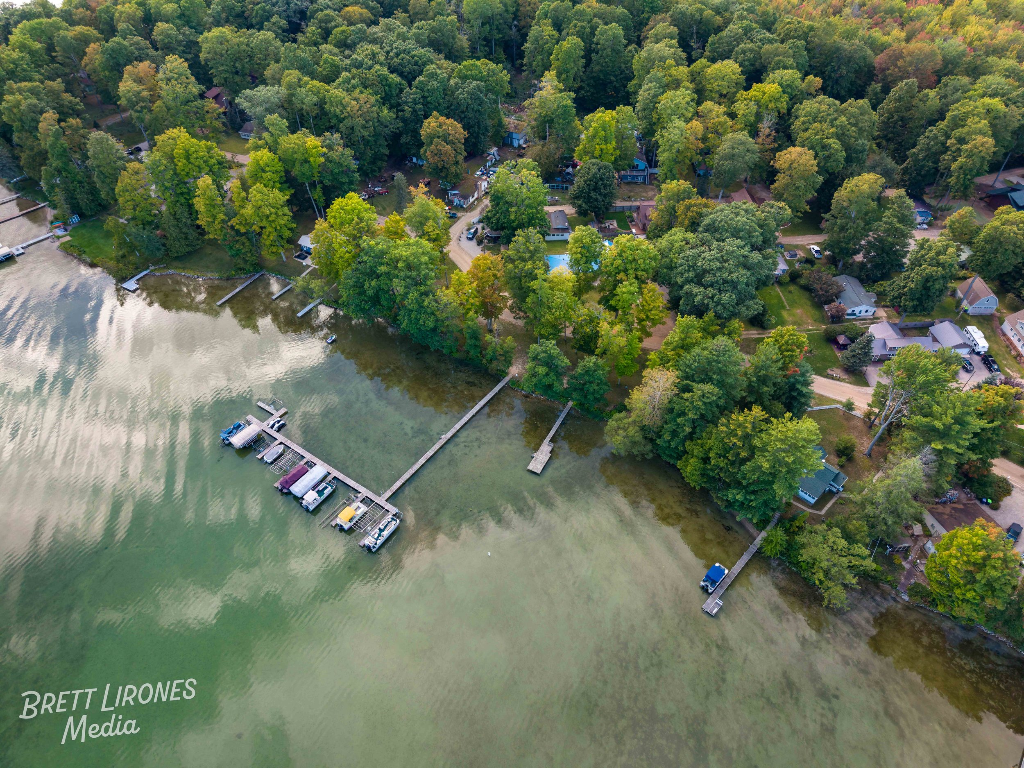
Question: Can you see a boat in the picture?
Yes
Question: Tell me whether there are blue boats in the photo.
Yes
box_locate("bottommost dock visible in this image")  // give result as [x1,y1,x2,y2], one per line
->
[702,530,768,617]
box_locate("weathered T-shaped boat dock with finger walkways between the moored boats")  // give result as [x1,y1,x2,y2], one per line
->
[245,402,398,549]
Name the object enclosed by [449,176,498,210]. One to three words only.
house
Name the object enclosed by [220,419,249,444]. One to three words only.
boat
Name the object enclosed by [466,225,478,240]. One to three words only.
vehicle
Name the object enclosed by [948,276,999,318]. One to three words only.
building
